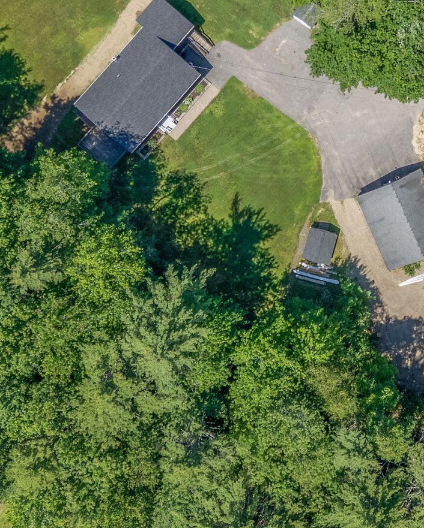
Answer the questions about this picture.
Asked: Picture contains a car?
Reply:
No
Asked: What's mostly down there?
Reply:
trees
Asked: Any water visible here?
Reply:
No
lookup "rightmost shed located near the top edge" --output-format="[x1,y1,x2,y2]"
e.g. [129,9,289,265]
[293,0,324,29]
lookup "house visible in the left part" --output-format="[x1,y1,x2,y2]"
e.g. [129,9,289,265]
[73,0,201,164]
